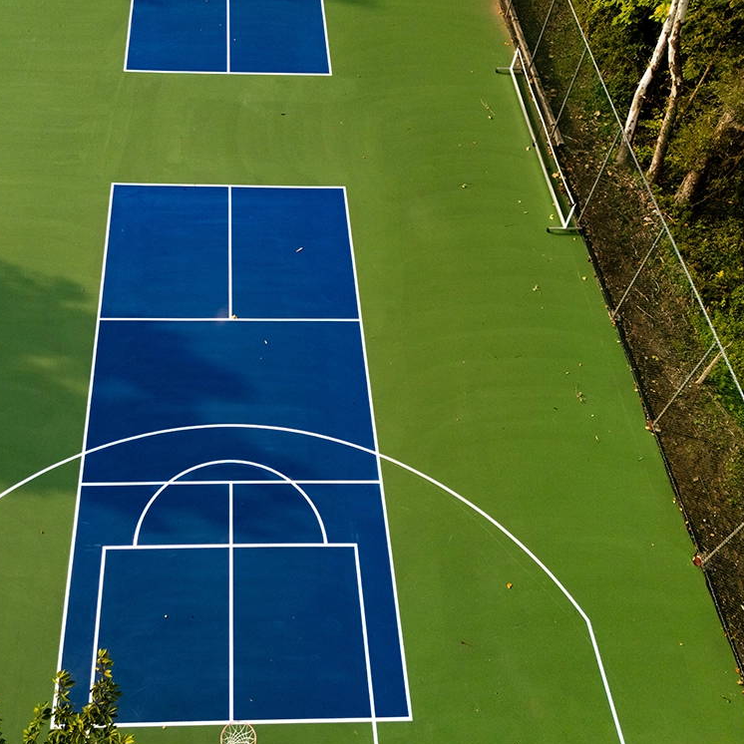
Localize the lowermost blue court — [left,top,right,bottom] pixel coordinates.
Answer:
[53,184,413,728]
